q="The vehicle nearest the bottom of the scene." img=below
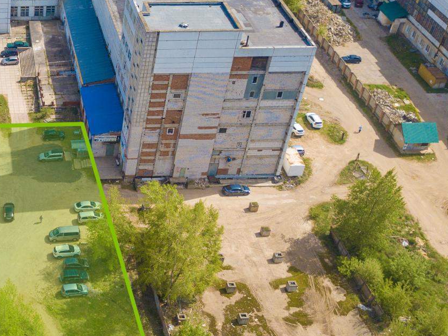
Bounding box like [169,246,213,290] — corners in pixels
[60,283,89,298]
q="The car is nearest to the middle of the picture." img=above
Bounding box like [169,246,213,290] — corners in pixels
[220,184,251,197]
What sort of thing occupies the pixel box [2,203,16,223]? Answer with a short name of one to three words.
car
